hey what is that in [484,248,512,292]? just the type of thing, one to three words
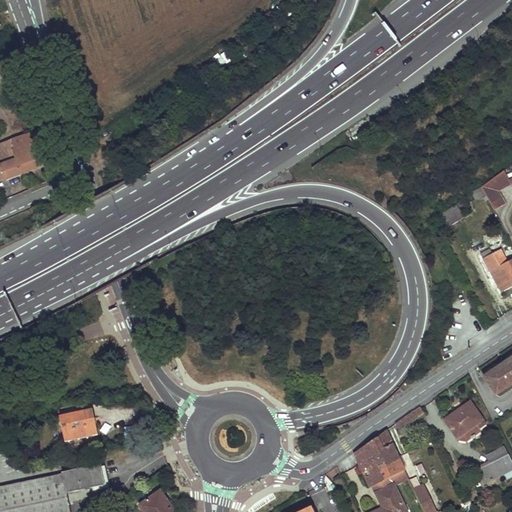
house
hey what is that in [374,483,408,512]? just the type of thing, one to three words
house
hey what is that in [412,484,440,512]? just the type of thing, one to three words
shed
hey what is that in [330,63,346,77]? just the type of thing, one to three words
vehicle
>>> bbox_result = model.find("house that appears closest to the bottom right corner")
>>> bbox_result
[482,446,512,480]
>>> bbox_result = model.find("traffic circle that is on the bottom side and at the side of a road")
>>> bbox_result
[178,391,298,510]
